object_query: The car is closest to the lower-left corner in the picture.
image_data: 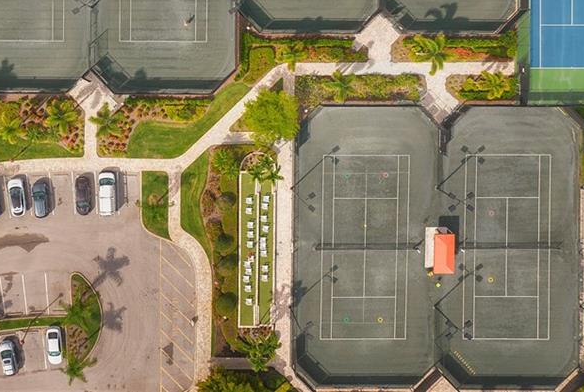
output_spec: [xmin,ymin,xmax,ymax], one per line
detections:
[0,338,18,377]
